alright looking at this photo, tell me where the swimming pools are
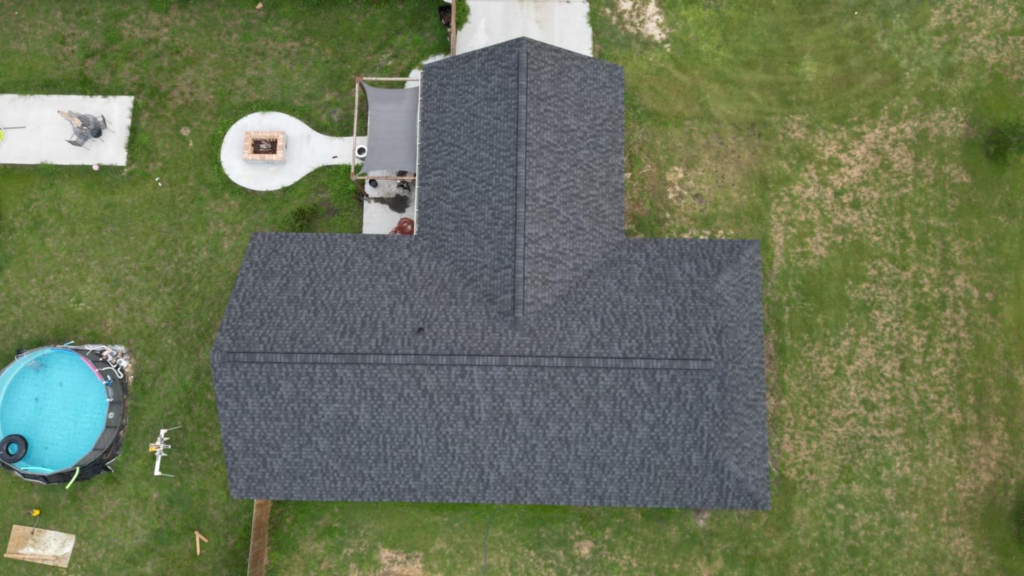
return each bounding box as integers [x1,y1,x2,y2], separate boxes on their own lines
[0,347,126,476]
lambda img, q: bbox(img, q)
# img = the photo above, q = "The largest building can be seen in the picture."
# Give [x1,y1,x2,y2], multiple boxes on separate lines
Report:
[210,38,772,512]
